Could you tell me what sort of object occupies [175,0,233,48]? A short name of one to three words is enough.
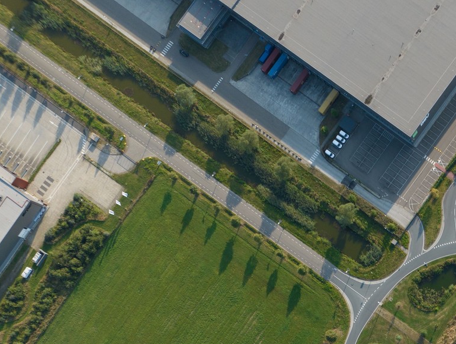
building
